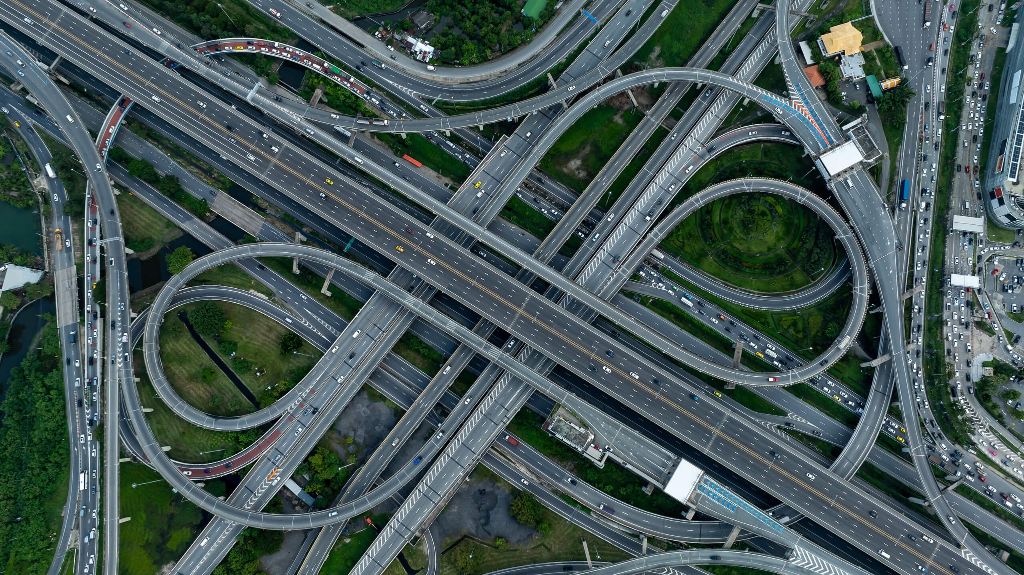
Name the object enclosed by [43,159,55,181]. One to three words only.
vehicle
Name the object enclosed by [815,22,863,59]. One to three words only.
house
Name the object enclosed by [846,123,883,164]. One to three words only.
building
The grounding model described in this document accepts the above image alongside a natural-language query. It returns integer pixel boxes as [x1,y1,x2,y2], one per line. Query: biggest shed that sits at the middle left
[1,263,47,292]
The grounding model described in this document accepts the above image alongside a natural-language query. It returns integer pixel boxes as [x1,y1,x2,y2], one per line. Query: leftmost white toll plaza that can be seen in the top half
[820,139,864,177]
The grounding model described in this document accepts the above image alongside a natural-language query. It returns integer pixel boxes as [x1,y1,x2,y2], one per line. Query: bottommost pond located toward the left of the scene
[0,200,42,261]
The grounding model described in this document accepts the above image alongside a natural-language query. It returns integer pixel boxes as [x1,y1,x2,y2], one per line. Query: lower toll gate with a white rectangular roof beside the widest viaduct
[659,458,706,504]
